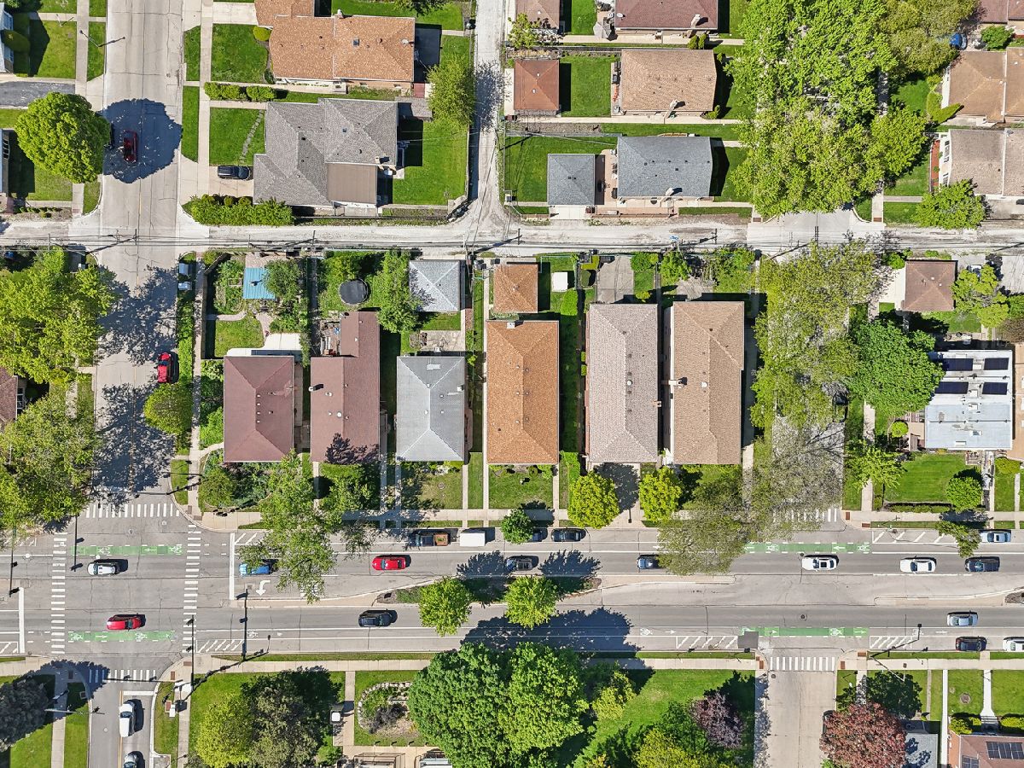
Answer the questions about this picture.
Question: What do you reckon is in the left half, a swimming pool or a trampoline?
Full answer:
What appears in the left half is a trampoline.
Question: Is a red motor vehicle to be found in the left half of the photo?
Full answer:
Yes, a red motor vehicle appears in the left half of the photo.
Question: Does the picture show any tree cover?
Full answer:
Yes, tree cover can be seen from above here.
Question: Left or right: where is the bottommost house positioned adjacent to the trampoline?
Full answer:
The bottommost house positioned adjacent to the trampoline is on the left side of the image.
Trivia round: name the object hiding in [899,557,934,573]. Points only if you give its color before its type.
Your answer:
white car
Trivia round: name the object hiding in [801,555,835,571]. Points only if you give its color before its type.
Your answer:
white car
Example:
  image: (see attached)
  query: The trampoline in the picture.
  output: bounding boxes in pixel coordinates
[339,278,369,308]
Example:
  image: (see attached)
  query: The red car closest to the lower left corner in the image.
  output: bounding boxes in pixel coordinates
[109,614,144,630]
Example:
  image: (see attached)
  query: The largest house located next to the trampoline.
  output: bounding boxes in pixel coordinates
[310,310,383,464]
